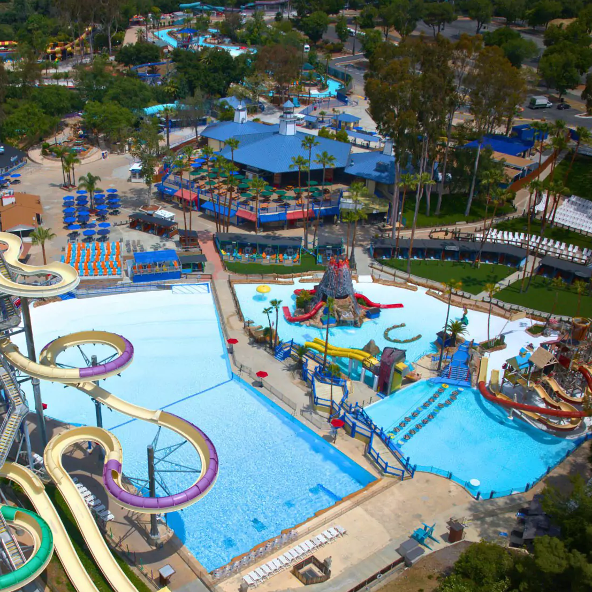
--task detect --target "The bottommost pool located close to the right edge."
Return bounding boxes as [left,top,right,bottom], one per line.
[365,380,592,497]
